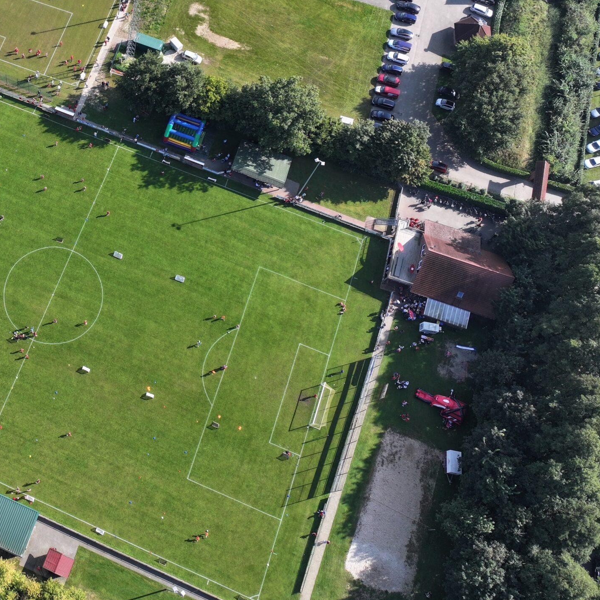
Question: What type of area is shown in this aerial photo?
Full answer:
This image shows a sports ground.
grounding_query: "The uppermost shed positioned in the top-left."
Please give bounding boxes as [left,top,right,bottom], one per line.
[133,32,164,57]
